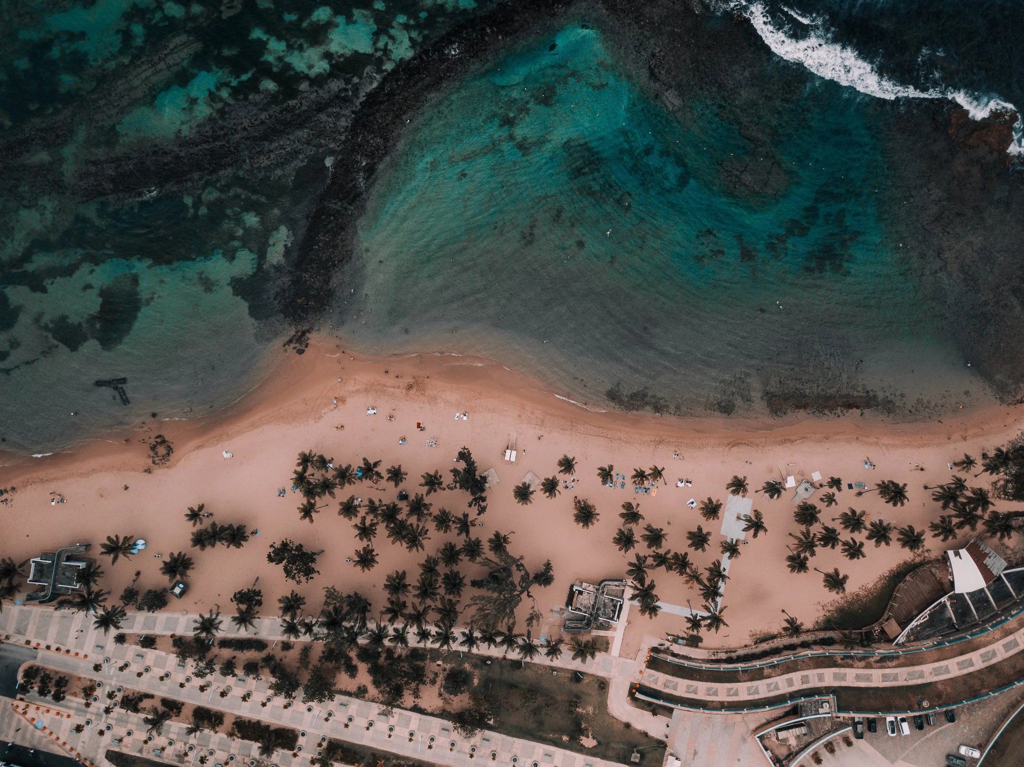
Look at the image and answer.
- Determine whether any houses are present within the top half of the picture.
No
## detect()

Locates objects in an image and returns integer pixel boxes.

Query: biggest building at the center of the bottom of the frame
[559,574,626,632]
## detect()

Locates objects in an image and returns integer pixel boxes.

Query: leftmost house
[25,539,102,603]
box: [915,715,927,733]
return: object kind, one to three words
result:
vehicle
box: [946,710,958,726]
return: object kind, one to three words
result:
vehicle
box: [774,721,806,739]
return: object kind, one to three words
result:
shed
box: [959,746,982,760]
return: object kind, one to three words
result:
car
